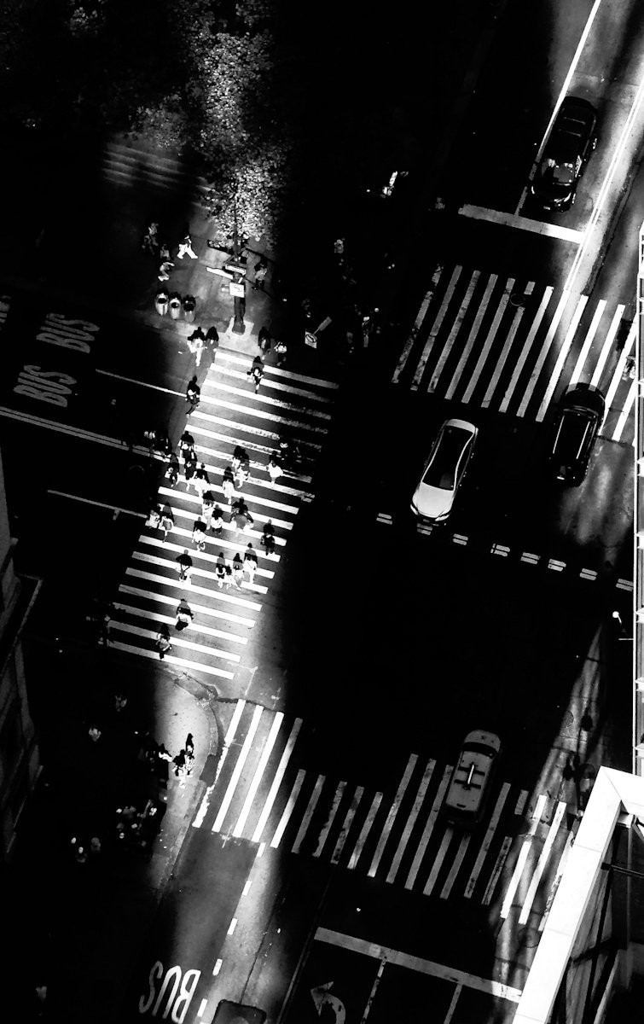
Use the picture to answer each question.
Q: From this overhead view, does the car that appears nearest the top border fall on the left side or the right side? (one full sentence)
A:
The car that appears nearest the top border sits on the right side.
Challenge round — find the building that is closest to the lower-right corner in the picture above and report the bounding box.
[516,766,644,1024]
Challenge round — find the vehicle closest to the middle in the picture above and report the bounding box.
[414,420,476,522]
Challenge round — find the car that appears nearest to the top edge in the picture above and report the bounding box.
[529,109,590,207]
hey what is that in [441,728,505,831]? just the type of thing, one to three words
car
